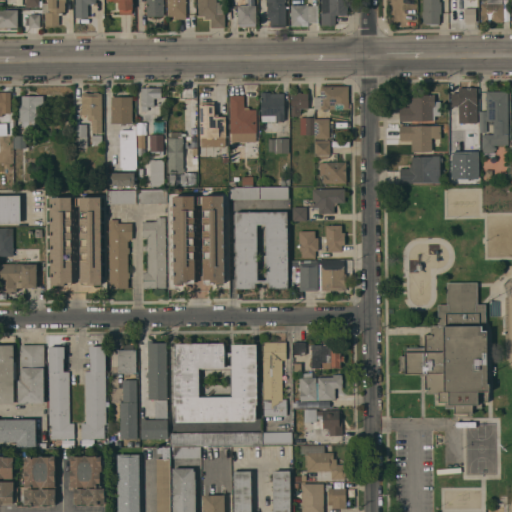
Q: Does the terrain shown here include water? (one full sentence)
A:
No, there is no water in the image.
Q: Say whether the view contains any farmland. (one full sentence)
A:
No, the scene doesn't show any farmland.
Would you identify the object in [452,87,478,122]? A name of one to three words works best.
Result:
house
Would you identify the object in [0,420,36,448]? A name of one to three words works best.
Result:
building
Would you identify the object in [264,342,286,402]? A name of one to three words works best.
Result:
building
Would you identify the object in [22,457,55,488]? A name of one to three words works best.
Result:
house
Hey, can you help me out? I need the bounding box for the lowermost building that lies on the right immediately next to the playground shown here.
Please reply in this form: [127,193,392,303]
[400,282,489,412]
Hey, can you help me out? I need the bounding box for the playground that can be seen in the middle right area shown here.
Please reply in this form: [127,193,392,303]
[401,238,455,308]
